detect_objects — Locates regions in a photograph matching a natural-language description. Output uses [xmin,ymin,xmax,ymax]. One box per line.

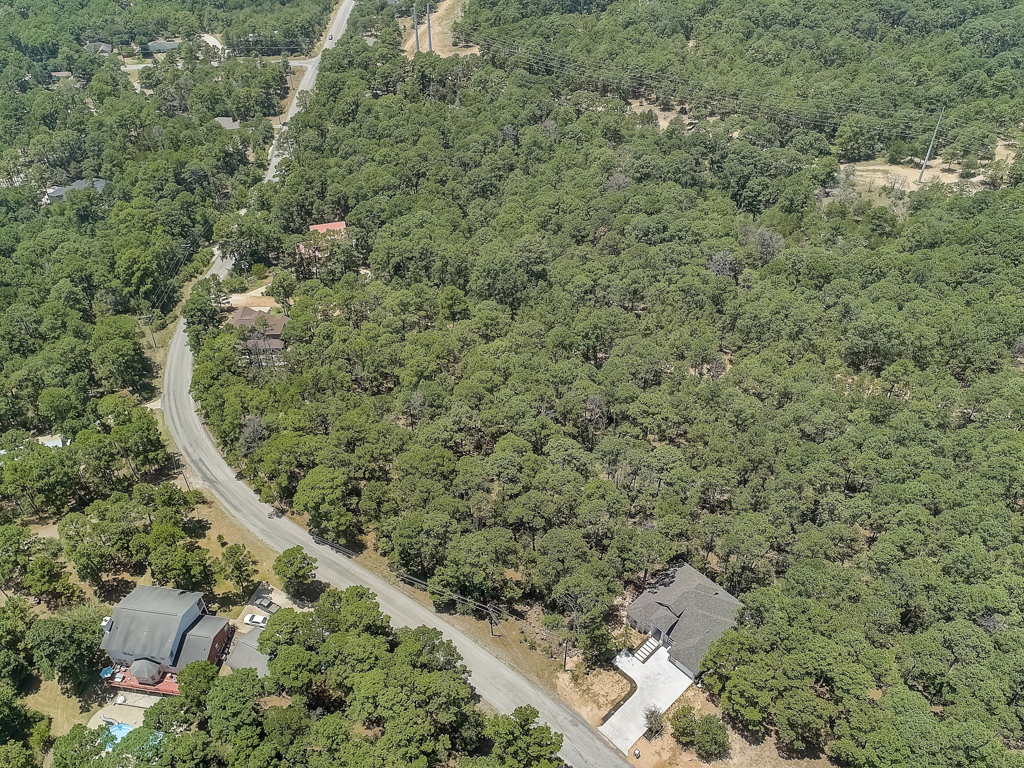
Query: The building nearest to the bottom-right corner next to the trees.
[625,559,752,680]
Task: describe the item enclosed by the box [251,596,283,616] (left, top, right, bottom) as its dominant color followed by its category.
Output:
gray vehicle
